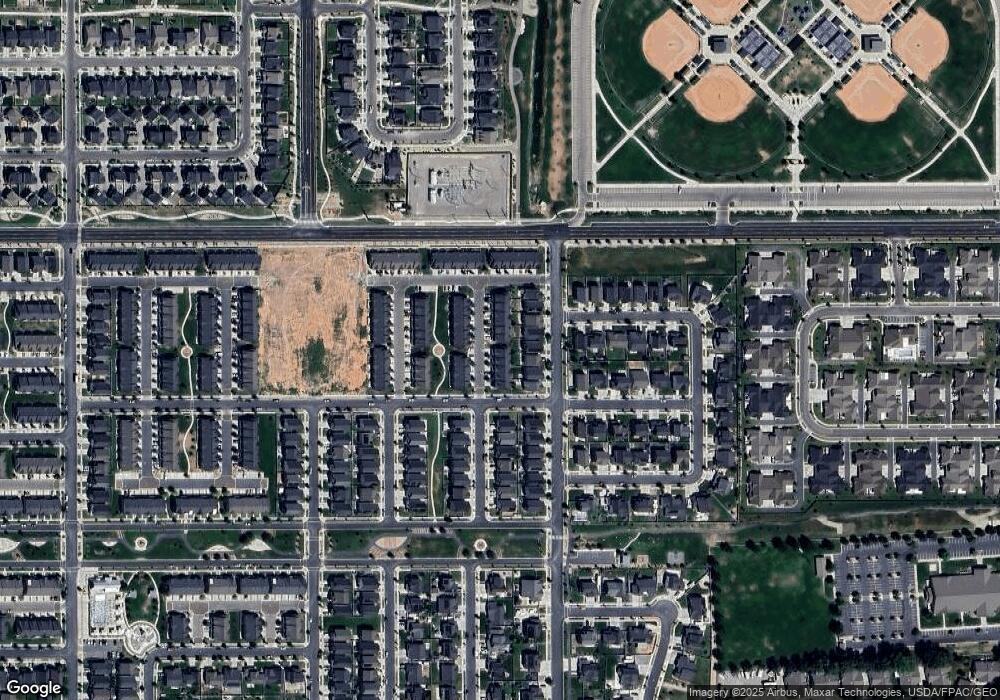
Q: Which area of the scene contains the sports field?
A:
bottom right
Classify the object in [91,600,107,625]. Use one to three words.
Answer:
swimming pool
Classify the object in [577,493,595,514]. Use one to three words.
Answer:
house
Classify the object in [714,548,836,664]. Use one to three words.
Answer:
sports field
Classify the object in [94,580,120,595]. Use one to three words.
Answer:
building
